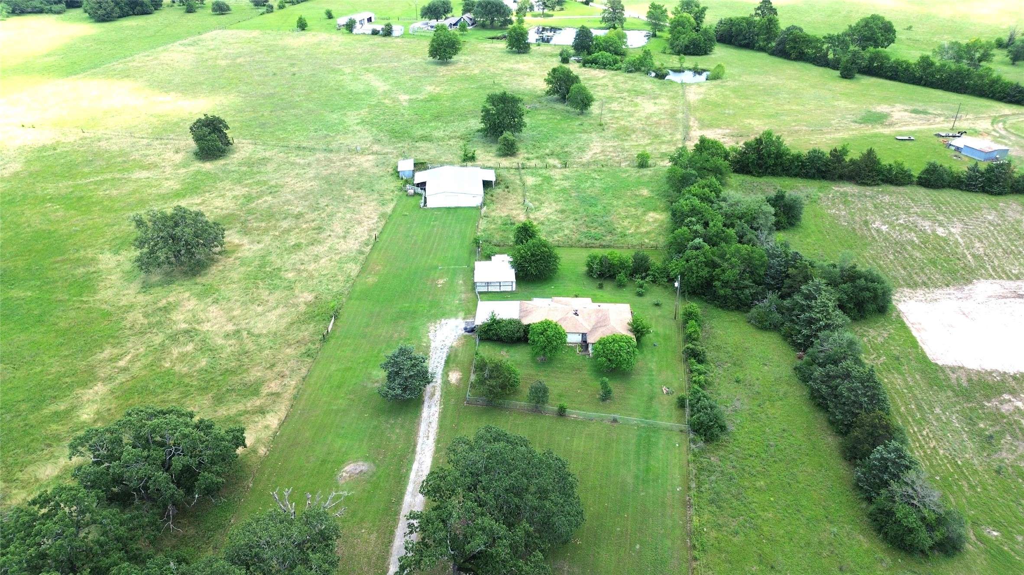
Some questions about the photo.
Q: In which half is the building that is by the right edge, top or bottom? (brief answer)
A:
top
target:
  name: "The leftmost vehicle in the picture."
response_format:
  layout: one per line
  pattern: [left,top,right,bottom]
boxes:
[464,321,476,333]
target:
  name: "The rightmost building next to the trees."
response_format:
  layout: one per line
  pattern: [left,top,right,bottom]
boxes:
[950,132,1008,161]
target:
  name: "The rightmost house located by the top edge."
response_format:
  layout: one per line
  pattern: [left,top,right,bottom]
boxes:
[426,5,477,28]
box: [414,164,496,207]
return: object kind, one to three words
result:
barn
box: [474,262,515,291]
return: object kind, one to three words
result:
shed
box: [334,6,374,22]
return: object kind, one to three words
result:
barn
